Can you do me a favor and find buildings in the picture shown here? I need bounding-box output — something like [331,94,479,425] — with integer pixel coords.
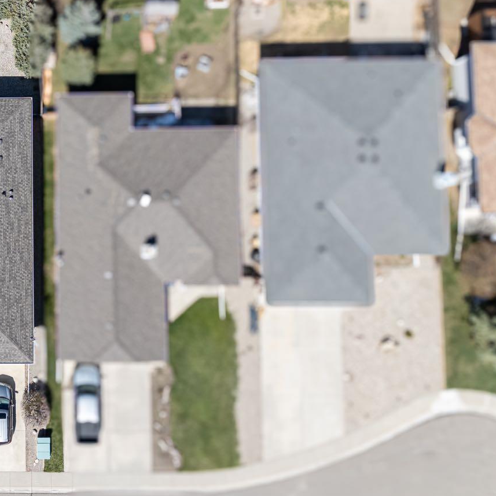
[0,97,38,364]
[52,94,242,363]
[249,58,460,307]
